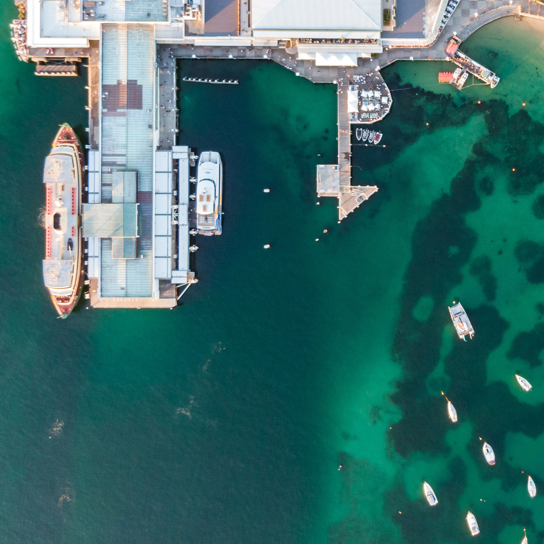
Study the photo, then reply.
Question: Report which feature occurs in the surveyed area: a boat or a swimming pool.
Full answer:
Of the two, only a boat appears.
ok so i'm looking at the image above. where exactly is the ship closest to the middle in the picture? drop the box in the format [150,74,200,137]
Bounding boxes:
[196,152,221,235]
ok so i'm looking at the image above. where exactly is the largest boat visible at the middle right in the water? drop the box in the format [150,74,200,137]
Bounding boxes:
[449,302,475,338]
